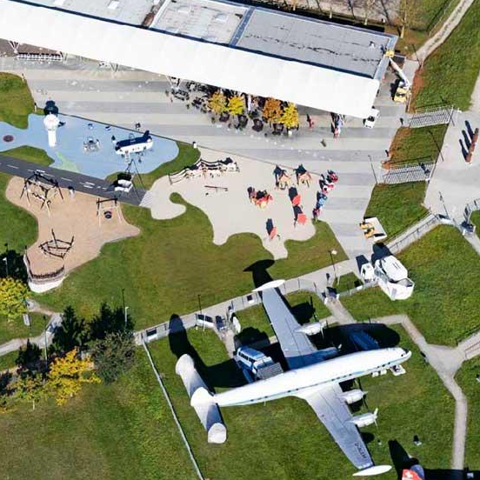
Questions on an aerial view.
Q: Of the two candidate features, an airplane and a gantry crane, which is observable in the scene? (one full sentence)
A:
Looking from above, you can make out an airplane.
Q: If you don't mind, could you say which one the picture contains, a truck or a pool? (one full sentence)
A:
The one in the frame is a truck.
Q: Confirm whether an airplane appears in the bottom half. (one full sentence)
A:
Yes, an airplane shows up in the bottom half.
